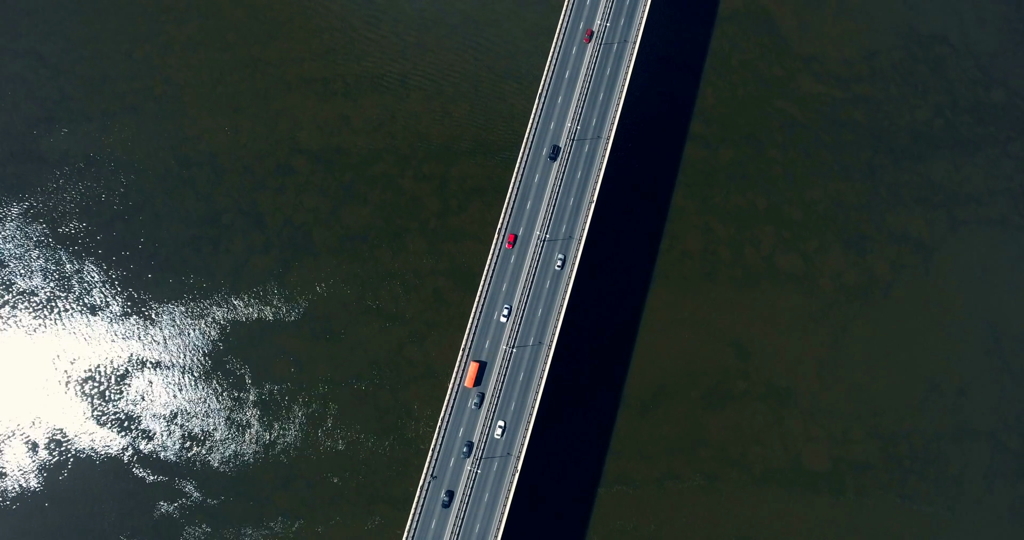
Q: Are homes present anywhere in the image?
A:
No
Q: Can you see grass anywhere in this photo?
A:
No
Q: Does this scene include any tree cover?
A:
No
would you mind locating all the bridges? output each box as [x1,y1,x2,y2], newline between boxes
[403,0,651,540]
